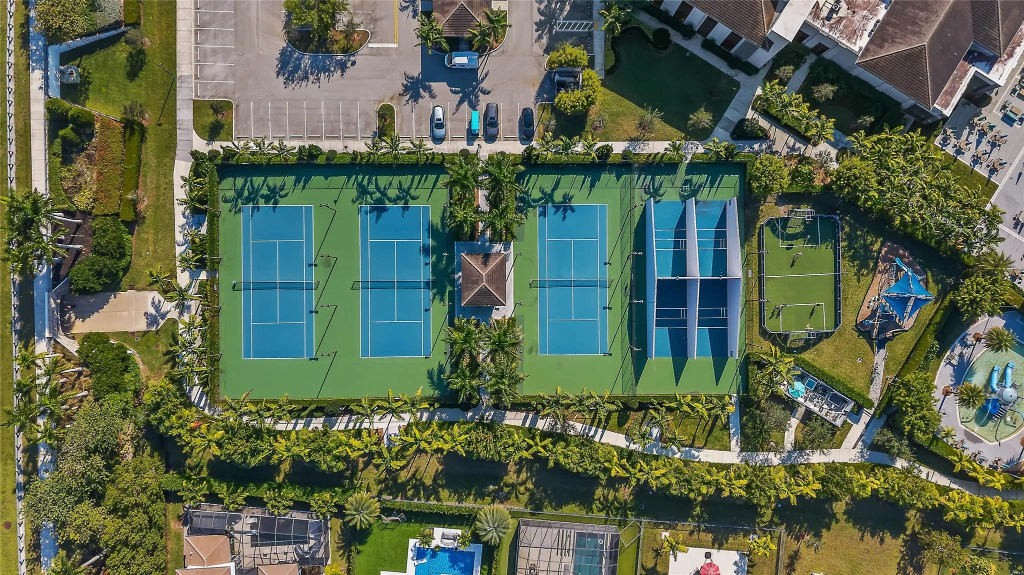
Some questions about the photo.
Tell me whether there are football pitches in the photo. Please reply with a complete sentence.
Yes, looking at the shot, I can spot a football pitch.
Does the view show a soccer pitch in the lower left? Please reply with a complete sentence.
No, there is no soccer pitch in the lower left.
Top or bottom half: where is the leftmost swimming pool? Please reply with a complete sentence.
Seen from above, the leftmost swimming pool lies in the bottom half of the view.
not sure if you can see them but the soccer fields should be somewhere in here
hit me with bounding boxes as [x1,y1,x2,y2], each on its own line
[767,218,839,332]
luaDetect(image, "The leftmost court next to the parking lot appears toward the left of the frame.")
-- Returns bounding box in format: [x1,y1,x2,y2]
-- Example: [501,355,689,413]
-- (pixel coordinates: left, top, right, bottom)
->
[242,205,315,359]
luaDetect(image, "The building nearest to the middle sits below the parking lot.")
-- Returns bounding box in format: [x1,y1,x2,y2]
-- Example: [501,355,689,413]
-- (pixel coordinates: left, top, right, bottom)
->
[460,253,507,307]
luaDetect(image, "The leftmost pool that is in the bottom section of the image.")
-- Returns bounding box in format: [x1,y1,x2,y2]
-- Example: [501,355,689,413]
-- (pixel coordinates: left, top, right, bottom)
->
[249,517,312,549]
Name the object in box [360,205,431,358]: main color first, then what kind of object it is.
blue tennis court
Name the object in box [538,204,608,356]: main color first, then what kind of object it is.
blue tennis court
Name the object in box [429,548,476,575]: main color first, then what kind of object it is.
blue swimming pool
